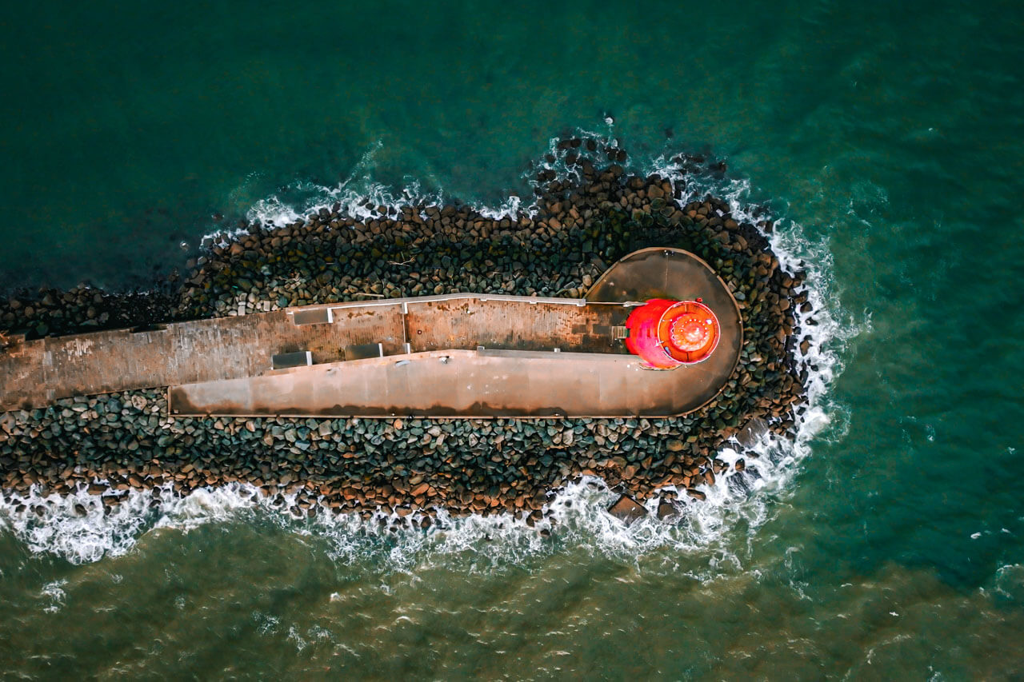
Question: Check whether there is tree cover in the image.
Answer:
No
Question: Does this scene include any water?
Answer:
Yes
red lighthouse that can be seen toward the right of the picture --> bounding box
[623,297,721,370]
